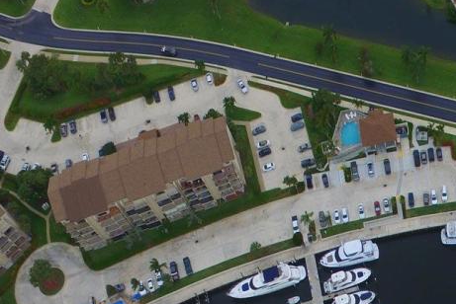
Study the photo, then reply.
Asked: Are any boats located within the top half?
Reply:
No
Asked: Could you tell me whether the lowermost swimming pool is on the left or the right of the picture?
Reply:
right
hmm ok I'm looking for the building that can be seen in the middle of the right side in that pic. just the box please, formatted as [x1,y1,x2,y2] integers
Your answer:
[361,114,396,153]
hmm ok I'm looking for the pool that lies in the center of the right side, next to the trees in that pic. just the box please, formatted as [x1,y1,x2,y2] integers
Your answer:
[331,107,365,153]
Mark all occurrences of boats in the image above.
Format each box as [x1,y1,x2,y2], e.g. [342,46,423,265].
[323,268,370,294]
[328,284,375,304]
[436,224,456,247]
[319,242,383,268]
[227,262,309,296]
